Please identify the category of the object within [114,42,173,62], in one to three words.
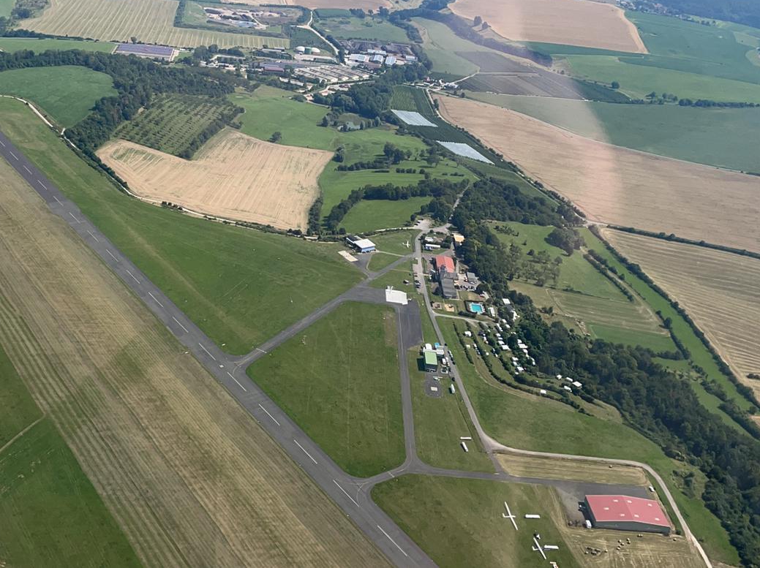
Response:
shed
